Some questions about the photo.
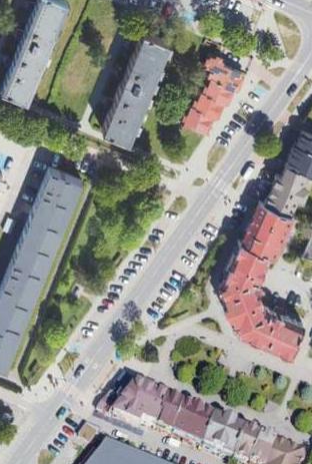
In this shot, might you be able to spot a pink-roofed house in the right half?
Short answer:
Yes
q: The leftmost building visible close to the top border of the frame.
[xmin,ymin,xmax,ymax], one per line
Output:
[0,0,69,109]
